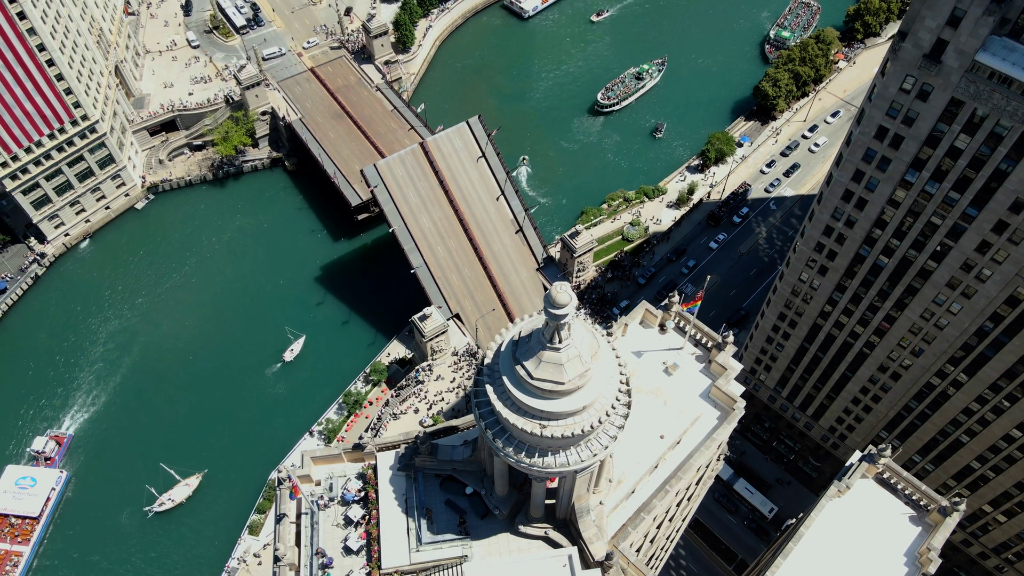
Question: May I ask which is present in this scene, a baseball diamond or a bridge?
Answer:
bridge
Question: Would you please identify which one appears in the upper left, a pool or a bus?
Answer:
bus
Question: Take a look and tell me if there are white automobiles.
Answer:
Yes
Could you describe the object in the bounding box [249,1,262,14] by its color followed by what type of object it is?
black vehicle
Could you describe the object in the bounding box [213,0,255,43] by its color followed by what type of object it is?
white bus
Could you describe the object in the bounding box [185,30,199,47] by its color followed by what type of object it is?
white vehicle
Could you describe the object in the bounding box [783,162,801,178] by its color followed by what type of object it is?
black car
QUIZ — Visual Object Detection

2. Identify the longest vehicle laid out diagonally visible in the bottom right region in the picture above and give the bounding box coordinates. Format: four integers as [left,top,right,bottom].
[710,459,780,528]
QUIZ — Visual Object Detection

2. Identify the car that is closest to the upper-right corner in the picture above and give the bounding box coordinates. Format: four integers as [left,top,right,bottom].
[824,108,842,124]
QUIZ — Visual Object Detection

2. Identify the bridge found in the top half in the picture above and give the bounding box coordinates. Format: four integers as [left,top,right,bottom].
[276,52,557,356]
